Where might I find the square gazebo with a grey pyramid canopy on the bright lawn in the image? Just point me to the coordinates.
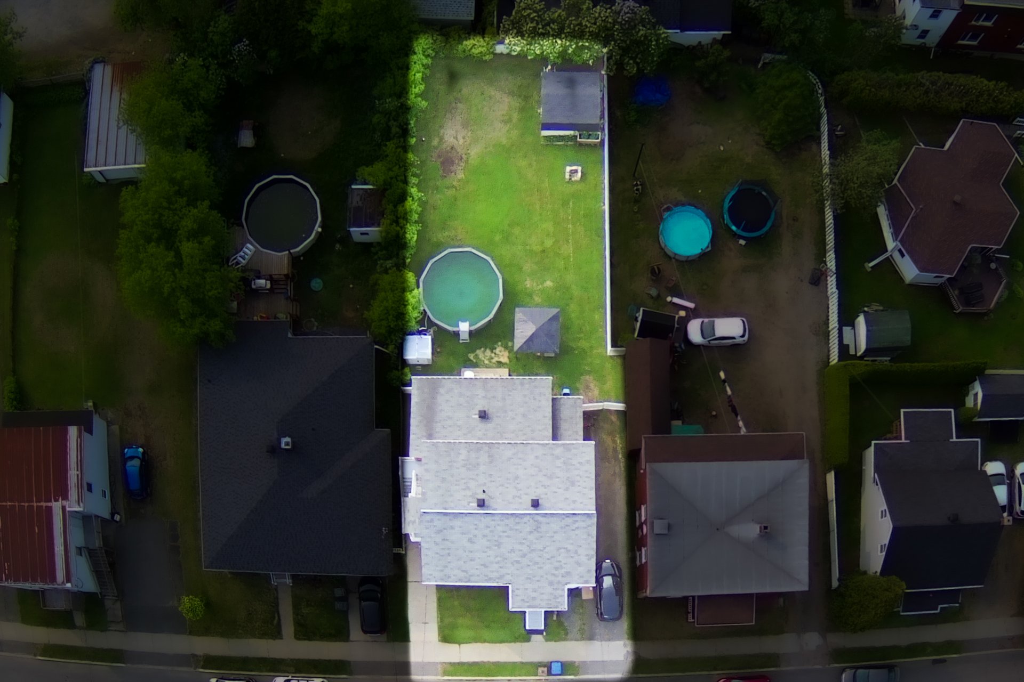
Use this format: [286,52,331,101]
[515,307,559,361]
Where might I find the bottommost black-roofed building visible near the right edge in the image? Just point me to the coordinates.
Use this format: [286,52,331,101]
[863,409,1013,615]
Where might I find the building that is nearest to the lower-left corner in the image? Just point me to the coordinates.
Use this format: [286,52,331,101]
[0,411,140,609]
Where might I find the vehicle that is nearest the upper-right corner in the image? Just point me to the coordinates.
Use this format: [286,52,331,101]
[687,315,748,348]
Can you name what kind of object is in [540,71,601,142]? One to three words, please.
shed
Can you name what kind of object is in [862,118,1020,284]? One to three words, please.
house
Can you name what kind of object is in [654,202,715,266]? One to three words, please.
swimming pool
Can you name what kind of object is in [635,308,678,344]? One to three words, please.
trailer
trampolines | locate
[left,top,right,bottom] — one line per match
[721,172,782,238]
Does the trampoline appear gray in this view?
No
